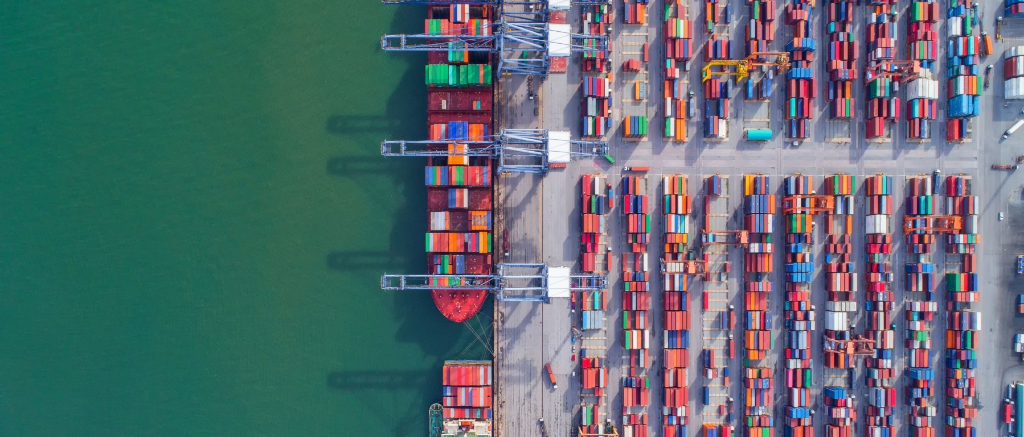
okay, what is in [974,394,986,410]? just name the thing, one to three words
vehicle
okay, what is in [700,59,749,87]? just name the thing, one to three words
crane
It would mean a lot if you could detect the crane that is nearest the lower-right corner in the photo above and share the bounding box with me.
[822,333,875,359]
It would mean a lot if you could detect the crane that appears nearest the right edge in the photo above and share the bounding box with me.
[903,214,963,236]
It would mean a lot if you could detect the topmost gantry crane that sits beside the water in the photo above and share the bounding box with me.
[379,0,609,43]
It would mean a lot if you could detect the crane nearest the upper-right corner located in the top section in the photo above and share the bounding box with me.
[863,59,921,87]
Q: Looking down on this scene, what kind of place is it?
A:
port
